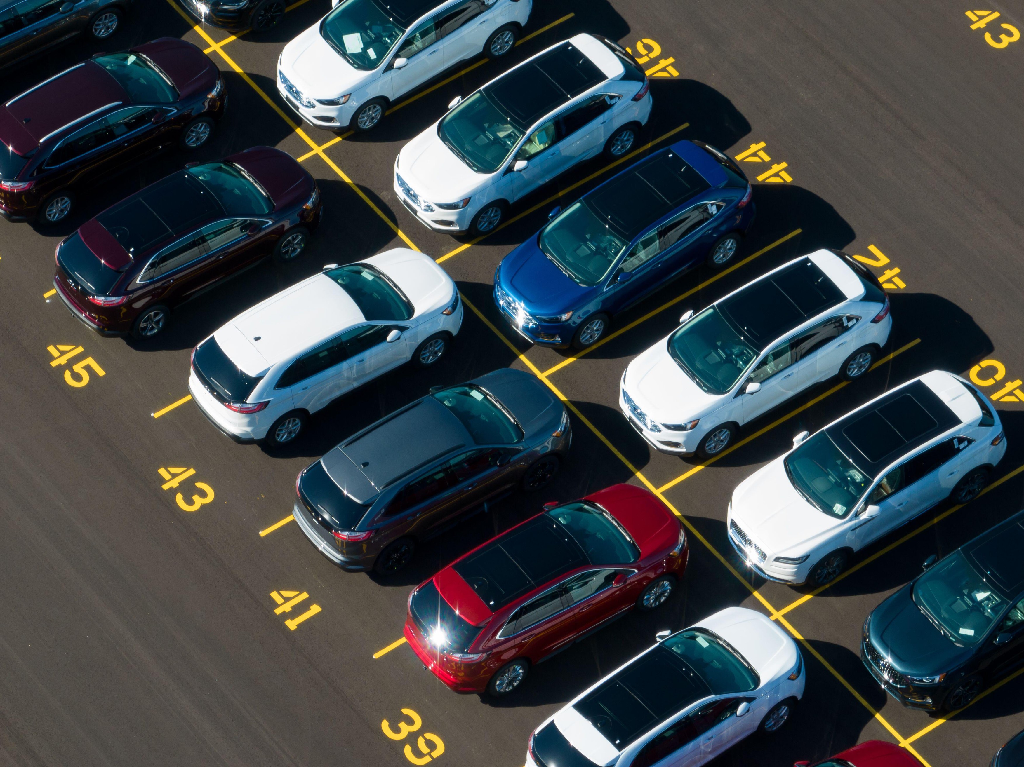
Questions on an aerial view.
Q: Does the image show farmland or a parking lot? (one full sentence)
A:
This image shows a parking lot.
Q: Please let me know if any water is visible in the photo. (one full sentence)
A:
No, water can't be seen anywhere here.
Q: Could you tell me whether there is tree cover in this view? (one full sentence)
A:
No, no tree cover is visible.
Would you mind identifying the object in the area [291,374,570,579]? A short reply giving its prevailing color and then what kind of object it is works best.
black car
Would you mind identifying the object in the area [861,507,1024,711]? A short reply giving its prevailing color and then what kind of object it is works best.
black car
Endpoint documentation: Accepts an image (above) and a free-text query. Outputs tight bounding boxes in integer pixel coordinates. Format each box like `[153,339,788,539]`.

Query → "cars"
[985,719,1024,767]
[394,35,657,237]
[278,0,537,133]
[517,612,808,767]
[494,141,760,348]
[188,0,304,32]
[402,490,689,699]
[186,254,463,449]
[51,152,323,342]
[0,43,227,228]
[791,745,920,767]
[291,374,570,579]
[861,507,1024,711]
[0,0,135,82]
[730,371,1008,587]
[621,250,896,459]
